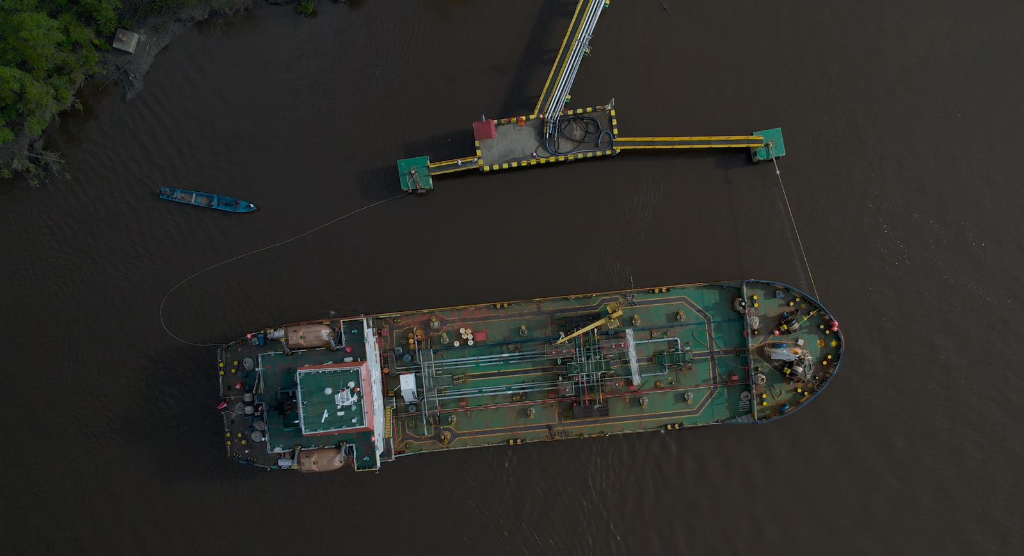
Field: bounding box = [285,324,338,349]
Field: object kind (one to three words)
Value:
boat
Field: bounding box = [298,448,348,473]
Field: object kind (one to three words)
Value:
boat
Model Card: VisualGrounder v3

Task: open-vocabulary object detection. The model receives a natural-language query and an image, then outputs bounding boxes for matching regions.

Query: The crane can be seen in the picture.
[555,301,626,344]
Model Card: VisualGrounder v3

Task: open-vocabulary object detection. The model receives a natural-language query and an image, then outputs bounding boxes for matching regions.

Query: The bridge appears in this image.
[537,0,610,117]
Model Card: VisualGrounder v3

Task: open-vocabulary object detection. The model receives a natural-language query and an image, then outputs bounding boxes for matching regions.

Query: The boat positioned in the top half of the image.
[153,186,259,211]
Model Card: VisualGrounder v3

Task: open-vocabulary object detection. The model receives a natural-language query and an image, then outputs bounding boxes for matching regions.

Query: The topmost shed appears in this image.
[114,29,150,59]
